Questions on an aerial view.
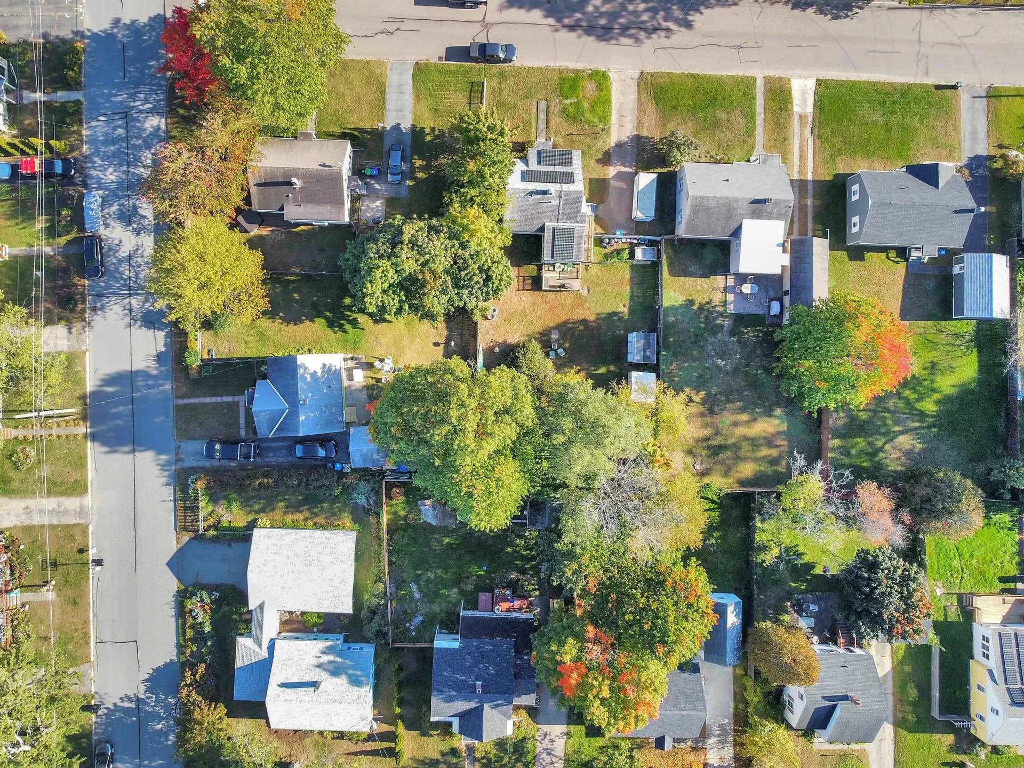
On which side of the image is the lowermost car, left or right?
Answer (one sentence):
The lowermost car is on the left side of the image.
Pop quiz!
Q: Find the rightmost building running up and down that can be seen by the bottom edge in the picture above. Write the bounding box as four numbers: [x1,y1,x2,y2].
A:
[961,594,1024,745]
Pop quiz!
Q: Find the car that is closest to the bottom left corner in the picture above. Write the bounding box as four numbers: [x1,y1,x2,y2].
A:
[91,737,113,768]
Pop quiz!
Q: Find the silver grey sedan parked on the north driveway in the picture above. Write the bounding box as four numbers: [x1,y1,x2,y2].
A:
[384,141,403,184]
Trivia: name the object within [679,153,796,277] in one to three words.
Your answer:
house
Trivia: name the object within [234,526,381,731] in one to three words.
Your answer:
house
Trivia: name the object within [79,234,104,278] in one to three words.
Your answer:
car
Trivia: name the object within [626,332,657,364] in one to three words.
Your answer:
shed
